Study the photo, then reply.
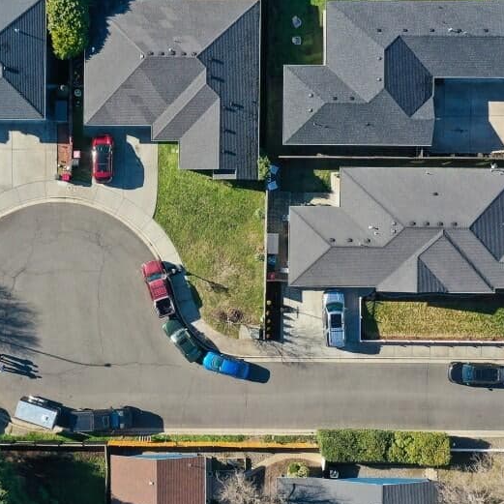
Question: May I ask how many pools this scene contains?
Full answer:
The picture shows no pools.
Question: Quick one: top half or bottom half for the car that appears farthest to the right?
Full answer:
Seen from above, the car that appears farthest to the right lies in the bottom half of the view.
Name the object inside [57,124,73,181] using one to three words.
trailer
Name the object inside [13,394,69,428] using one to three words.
trailer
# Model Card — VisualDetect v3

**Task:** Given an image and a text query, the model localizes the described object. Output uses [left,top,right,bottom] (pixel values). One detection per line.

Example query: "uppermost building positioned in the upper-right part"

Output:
[282,0,504,147]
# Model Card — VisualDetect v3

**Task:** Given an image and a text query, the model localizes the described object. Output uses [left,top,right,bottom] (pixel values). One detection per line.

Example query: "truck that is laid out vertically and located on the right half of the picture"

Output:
[323,291,347,347]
